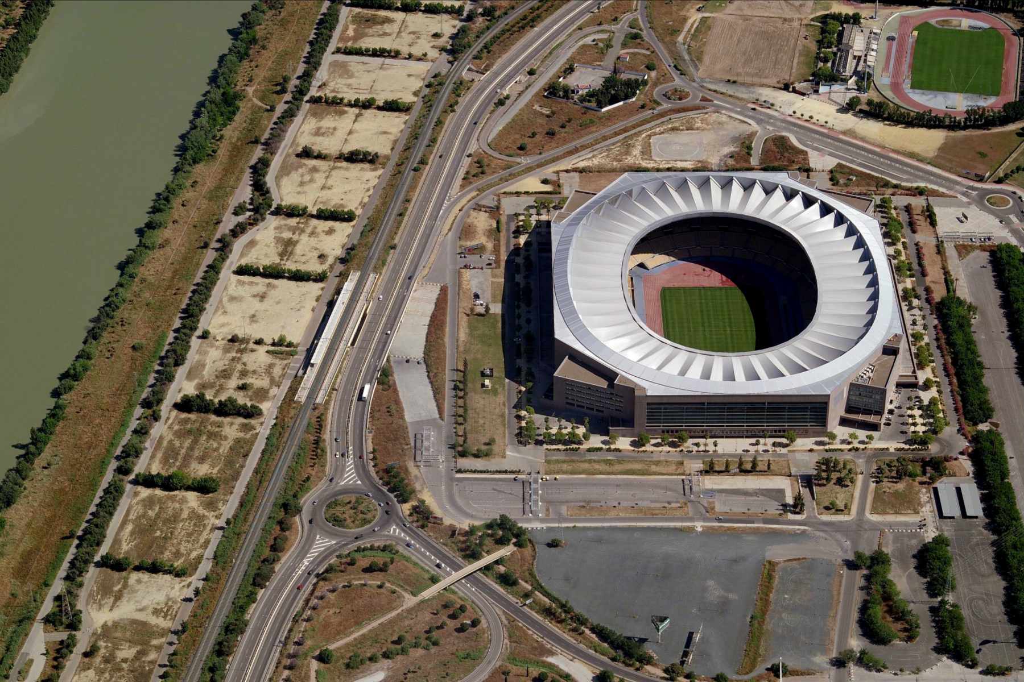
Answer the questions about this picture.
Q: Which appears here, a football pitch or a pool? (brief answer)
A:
football pitch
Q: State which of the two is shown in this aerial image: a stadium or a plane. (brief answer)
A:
stadium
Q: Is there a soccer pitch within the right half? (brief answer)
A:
Yes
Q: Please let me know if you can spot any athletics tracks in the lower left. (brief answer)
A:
No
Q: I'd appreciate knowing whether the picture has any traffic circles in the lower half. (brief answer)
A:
Yes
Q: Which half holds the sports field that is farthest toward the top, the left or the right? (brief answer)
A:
right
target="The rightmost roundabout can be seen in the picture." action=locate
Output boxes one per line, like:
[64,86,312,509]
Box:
[967,184,1024,218]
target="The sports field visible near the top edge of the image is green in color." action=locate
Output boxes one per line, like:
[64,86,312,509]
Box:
[910,22,1005,96]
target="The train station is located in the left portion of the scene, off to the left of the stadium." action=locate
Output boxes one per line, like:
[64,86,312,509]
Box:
[295,272,379,404]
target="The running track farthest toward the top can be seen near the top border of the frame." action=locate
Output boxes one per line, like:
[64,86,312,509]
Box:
[891,8,1017,117]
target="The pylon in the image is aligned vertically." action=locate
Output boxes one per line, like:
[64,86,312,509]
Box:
[56,580,73,627]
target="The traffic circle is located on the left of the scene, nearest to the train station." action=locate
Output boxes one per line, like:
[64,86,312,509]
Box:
[301,482,402,544]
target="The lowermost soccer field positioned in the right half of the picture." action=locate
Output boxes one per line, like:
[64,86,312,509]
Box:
[659,286,778,351]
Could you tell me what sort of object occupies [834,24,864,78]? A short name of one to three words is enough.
building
